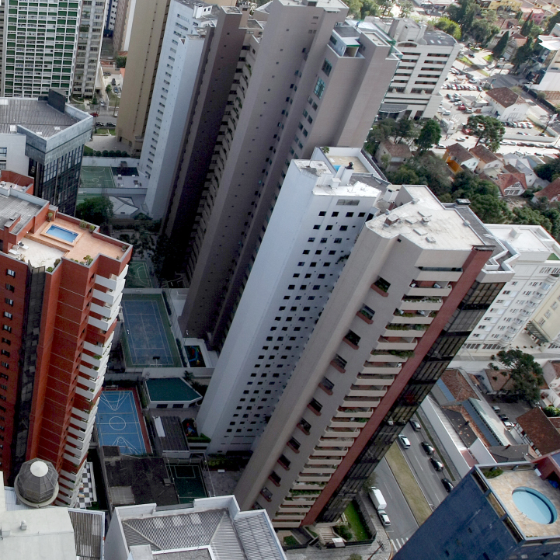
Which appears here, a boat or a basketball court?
basketball court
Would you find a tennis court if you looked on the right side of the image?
No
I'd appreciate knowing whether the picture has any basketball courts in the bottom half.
Yes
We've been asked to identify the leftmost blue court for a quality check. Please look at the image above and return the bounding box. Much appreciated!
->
[97,384,151,462]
